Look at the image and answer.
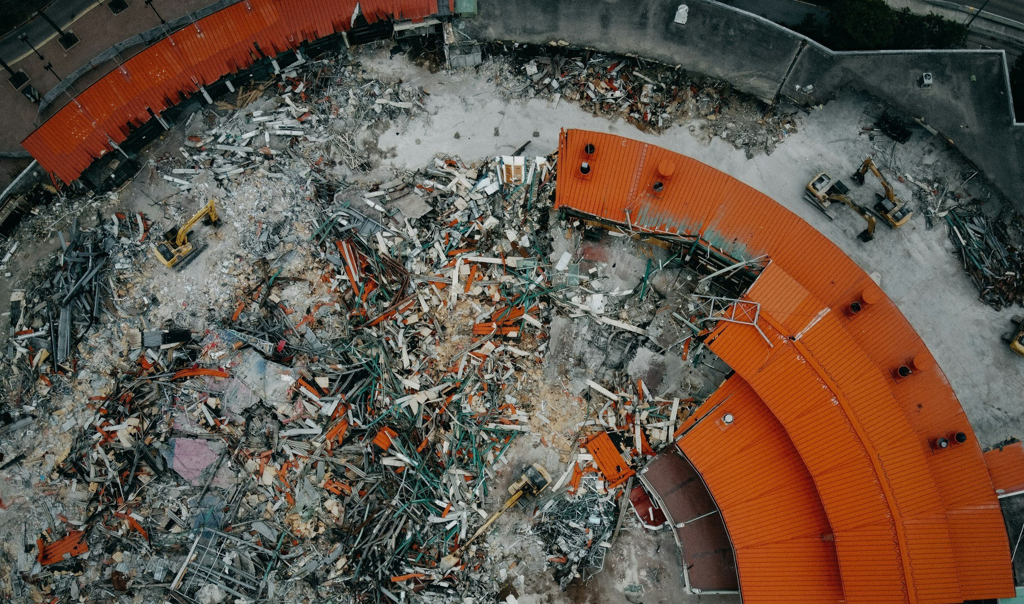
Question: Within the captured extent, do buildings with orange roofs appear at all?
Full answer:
Yes, the picture does show a building with an orange roof.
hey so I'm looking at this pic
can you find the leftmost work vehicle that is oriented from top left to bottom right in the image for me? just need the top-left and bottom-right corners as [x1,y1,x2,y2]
[792,171,876,243]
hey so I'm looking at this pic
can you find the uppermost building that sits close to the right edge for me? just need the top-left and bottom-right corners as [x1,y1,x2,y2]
[774,35,1024,227]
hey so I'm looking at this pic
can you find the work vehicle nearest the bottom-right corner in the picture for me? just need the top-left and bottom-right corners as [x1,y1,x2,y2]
[1000,319,1024,358]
